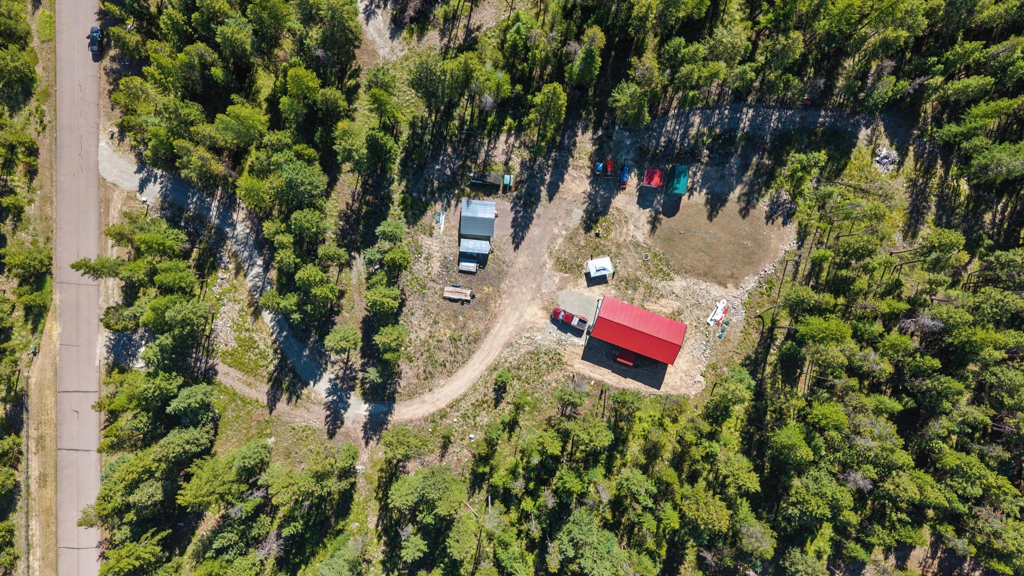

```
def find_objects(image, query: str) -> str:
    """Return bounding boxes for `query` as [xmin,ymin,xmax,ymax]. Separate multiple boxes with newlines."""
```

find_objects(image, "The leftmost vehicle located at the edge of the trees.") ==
[84,27,105,54]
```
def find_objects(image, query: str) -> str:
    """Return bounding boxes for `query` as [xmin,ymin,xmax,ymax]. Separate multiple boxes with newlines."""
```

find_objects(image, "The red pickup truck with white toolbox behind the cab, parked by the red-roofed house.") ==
[549,307,589,333]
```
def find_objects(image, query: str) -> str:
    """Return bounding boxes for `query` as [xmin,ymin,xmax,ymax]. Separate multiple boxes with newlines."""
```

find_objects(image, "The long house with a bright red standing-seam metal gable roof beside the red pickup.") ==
[590,295,687,364]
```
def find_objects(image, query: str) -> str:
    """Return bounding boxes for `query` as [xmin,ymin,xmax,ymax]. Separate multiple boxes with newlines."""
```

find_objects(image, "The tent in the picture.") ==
[587,257,613,277]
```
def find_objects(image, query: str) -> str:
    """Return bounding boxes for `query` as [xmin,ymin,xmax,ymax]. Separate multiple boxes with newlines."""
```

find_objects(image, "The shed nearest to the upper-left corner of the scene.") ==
[461,201,496,236]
